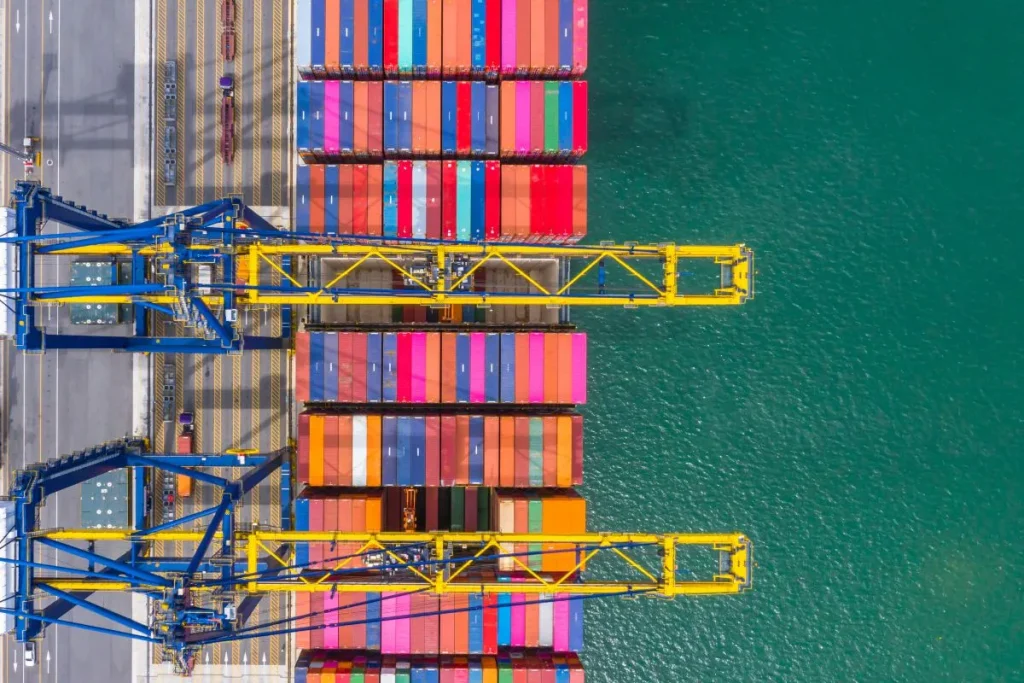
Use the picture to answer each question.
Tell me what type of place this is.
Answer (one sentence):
The picture captures a port.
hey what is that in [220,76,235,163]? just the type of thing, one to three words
vehicle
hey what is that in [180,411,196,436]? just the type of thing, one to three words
vehicle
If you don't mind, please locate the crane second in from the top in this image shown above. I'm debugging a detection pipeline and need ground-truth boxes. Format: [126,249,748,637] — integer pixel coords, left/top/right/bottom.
[0,180,759,369]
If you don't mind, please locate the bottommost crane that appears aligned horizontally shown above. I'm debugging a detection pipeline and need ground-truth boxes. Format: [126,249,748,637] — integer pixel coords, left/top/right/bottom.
[0,427,758,682]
